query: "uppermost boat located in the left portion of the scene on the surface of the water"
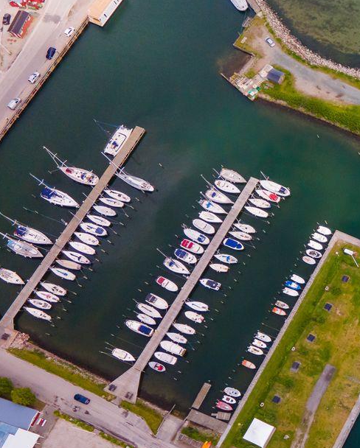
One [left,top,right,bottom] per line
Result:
[99,117,133,156]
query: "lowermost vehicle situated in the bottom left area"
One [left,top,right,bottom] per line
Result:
[74,393,92,405]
